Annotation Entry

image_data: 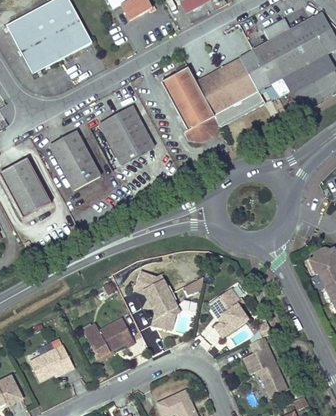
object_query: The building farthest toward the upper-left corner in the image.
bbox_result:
[5,0,91,74]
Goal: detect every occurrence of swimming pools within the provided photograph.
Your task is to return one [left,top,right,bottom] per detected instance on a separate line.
[175,316,192,335]
[246,392,258,410]
[230,330,250,346]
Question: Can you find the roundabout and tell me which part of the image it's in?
right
